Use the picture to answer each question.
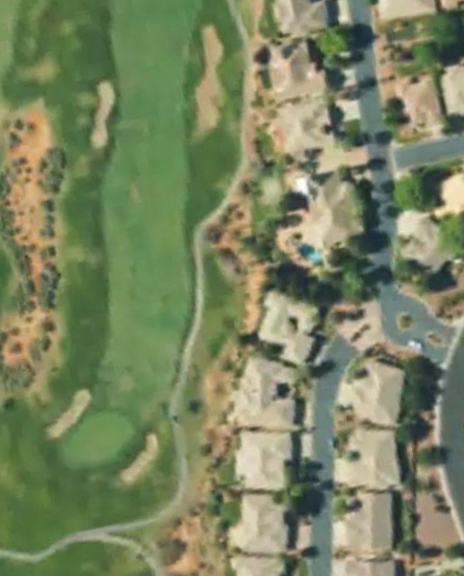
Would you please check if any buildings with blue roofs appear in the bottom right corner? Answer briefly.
No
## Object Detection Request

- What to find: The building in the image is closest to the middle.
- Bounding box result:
[257,293,319,360]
